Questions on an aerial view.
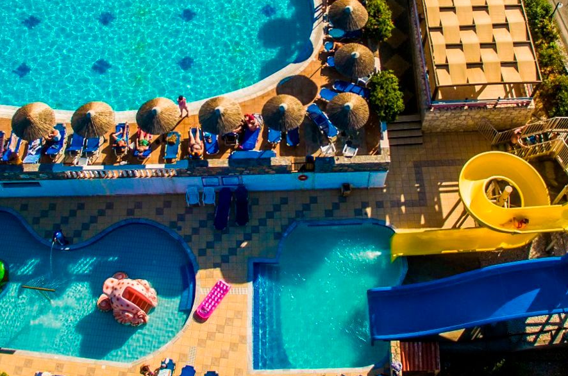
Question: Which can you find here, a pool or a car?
pool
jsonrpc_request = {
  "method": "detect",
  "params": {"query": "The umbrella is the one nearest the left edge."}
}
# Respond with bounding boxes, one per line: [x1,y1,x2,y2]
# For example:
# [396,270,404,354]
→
[14,103,55,143]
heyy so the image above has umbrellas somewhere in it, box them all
[334,45,374,83]
[327,95,368,136]
[75,104,116,142]
[14,103,55,143]
[198,98,241,138]
[135,97,179,139]
[330,2,367,42]
[264,96,303,136]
